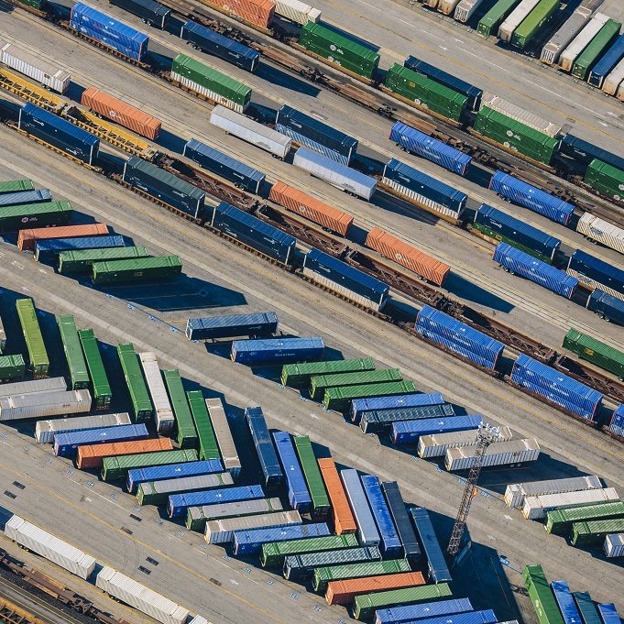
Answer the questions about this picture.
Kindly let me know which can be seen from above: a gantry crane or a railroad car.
railroad car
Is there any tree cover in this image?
No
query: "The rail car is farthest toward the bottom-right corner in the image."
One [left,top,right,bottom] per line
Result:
[599,422,624,449]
